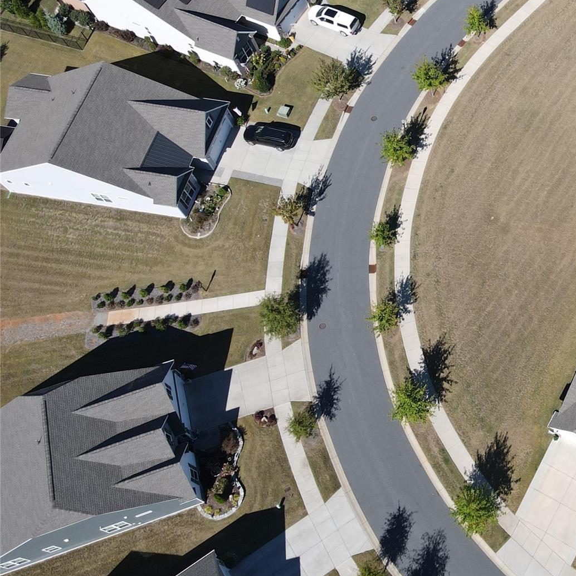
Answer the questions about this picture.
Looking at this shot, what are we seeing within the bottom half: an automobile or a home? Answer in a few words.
home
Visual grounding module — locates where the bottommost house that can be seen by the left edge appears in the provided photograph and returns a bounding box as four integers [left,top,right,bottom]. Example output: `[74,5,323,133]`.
[0,359,207,573]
